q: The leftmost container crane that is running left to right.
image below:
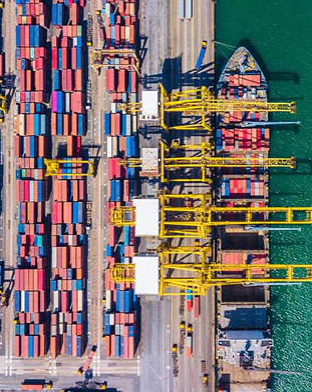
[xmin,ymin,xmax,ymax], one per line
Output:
[46,159,95,178]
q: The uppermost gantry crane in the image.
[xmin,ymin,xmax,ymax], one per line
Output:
[92,49,139,76]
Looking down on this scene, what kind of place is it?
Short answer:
port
